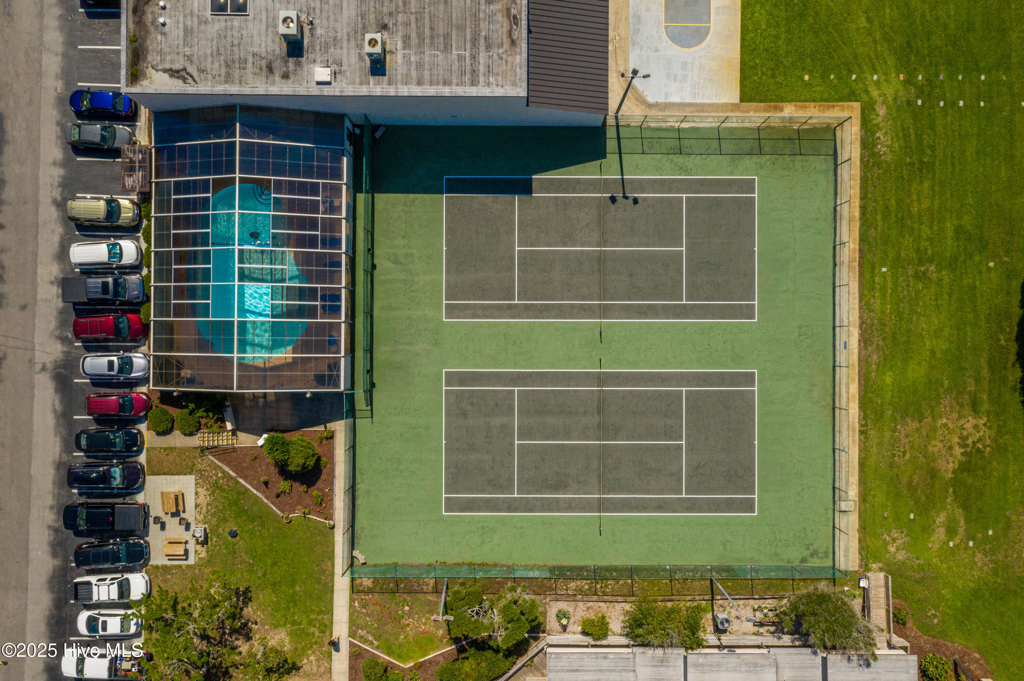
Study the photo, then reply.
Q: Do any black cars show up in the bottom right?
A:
No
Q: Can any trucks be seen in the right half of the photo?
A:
No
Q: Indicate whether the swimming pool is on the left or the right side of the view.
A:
left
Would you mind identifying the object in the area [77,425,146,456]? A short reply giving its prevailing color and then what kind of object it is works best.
black car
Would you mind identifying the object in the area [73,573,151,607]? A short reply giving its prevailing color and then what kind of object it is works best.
white truck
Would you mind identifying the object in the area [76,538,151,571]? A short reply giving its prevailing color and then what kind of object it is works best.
black car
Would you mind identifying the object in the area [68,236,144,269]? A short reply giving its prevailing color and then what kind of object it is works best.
white vehicle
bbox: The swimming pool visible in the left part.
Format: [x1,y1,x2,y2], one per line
[189,181,311,362]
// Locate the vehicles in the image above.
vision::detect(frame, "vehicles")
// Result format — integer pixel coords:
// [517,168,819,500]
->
[73,310,147,342]
[76,538,151,571]
[67,118,138,149]
[73,573,151,607]
[67,460,146,493]
[61,272,146,305]
[65,193,142,226]
[65,502,148,537]
[84,388,154,420]
[81,350,149,382]
[77,425,146,456]
[68,236,144,269]
[80,608,144,642]
[65,648,148,681]
[80,0,122,13]
[71,83,137,117]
